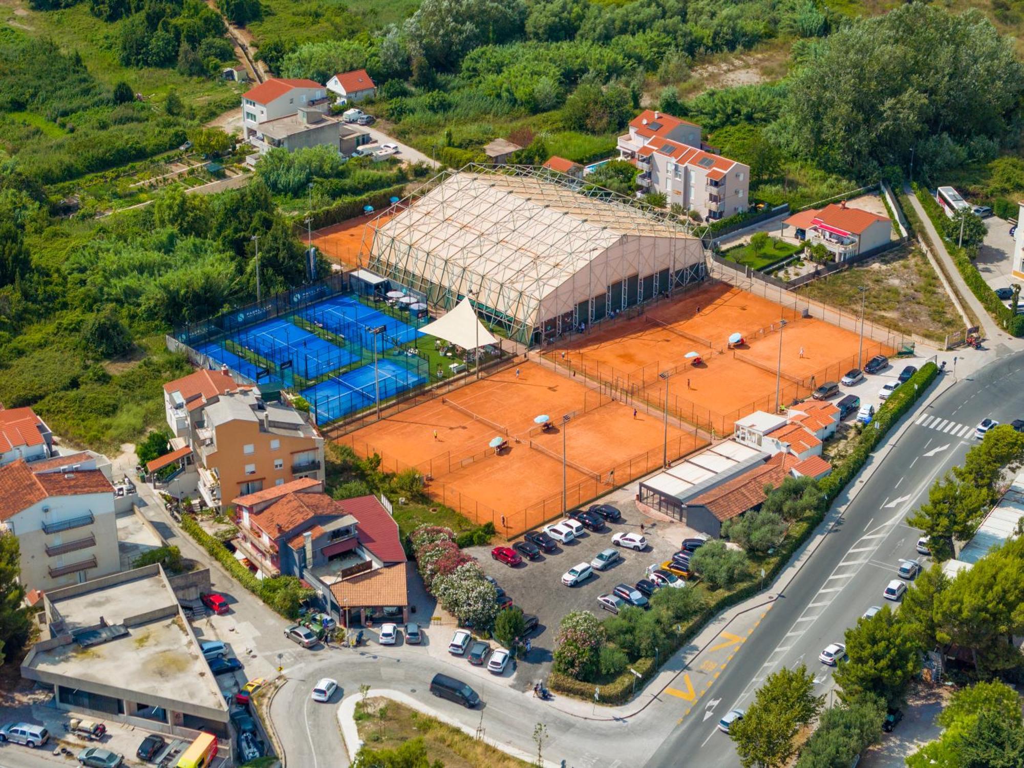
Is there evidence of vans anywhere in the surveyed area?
Yes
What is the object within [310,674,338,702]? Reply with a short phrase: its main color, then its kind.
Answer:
white car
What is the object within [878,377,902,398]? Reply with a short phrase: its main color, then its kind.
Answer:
white car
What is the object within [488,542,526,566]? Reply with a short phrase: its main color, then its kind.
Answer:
red car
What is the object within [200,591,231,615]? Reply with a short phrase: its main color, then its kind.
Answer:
red car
